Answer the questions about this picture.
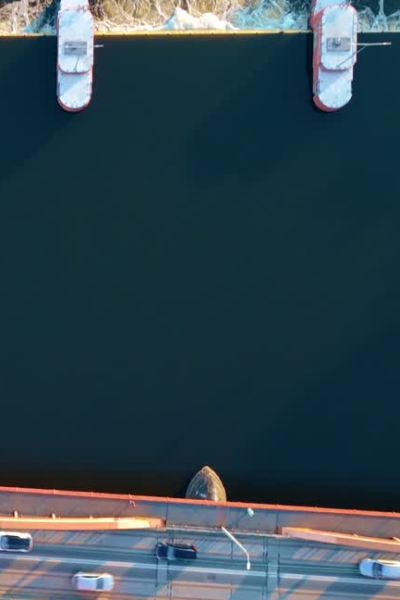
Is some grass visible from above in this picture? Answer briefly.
No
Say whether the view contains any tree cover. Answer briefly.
No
